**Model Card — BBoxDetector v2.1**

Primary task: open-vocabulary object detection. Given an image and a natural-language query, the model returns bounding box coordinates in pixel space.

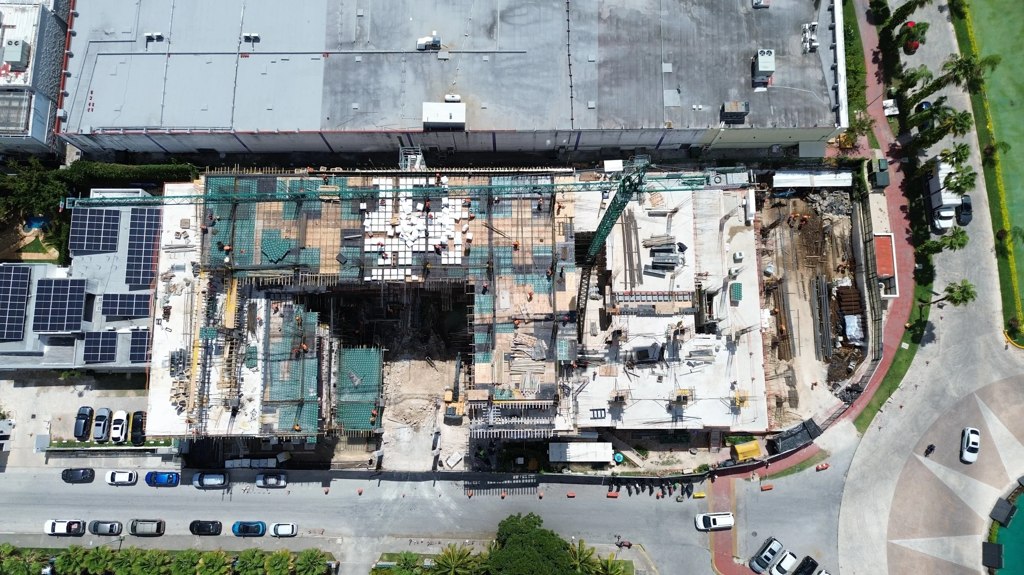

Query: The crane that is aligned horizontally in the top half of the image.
[65,151,758,270]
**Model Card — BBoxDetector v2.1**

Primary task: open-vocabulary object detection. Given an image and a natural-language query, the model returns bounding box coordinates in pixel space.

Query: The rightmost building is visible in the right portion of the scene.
[872,232,900,299]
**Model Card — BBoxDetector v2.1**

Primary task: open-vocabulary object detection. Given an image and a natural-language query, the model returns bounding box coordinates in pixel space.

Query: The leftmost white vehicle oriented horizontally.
[44,518,88,537]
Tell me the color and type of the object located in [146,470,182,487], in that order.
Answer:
blue car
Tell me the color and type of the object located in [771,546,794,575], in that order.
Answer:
white car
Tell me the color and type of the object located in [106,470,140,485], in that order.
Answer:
white car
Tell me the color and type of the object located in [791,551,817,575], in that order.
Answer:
black car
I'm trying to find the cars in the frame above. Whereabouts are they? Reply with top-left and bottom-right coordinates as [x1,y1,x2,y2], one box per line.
[90,519,124,537]
[192,519,223,536]
[270,522,298,537]
[695,512,733,531]
[73,405,98,441]
[815,560,835,575]
[771,546,794,575]
[791,551,817,575]
[956,196,973,226]
[91,408,116,443]
[233,520,266,538]
[128,518,168,537]
[256,472,289,488]
[64,467,96,484]
[146,470,182,487]
[752,536,779,574]
[128,410,148,446]
[109,410,133,444]
[194,471,230,489]
[106,470,140,485]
